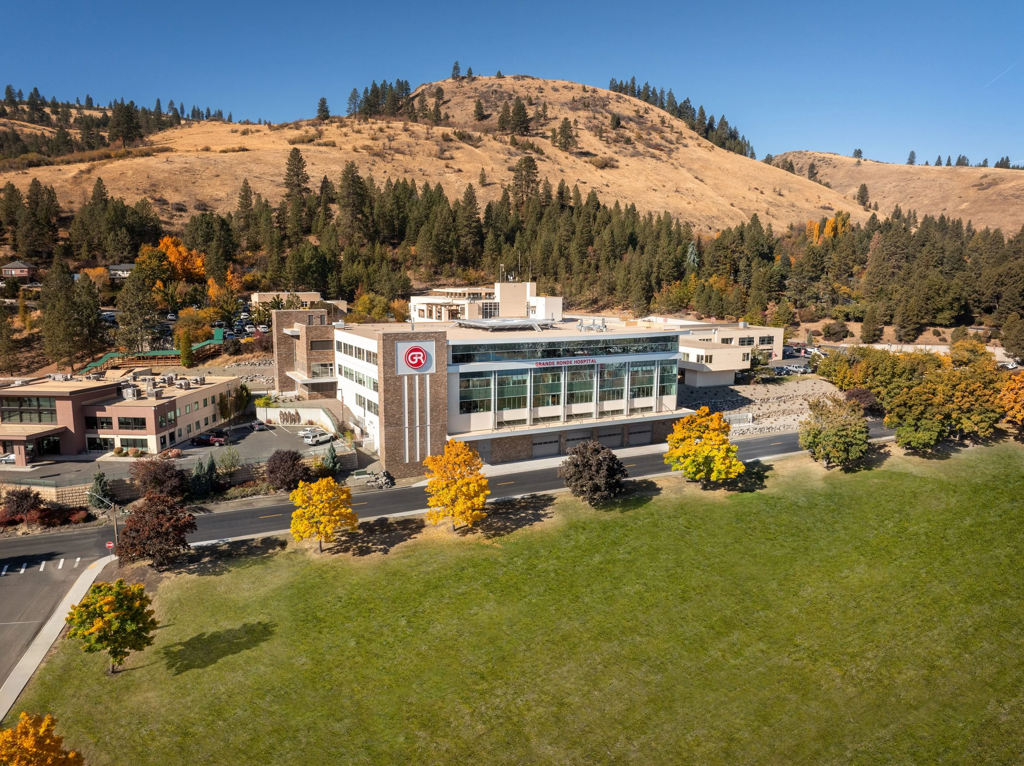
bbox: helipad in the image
[438,318,592,337]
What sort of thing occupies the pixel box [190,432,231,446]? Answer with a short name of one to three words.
vehicle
